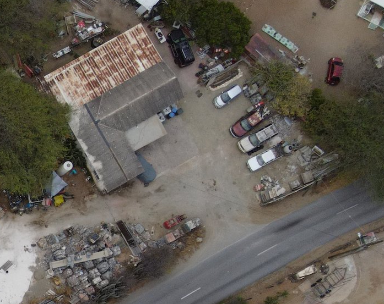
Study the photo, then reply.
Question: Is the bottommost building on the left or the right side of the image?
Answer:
left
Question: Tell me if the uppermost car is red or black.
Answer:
black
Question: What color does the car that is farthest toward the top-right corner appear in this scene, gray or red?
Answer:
red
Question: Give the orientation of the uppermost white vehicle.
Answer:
at an angle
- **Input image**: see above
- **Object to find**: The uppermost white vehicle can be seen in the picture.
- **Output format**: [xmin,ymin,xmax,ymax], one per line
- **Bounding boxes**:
[211,82,245,109]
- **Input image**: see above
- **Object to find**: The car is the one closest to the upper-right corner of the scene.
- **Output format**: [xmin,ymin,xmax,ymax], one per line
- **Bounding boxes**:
[322,56,344,88]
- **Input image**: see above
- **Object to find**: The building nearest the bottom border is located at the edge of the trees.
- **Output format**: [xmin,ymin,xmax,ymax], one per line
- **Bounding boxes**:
[42,24,184,195]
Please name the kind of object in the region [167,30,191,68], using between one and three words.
car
